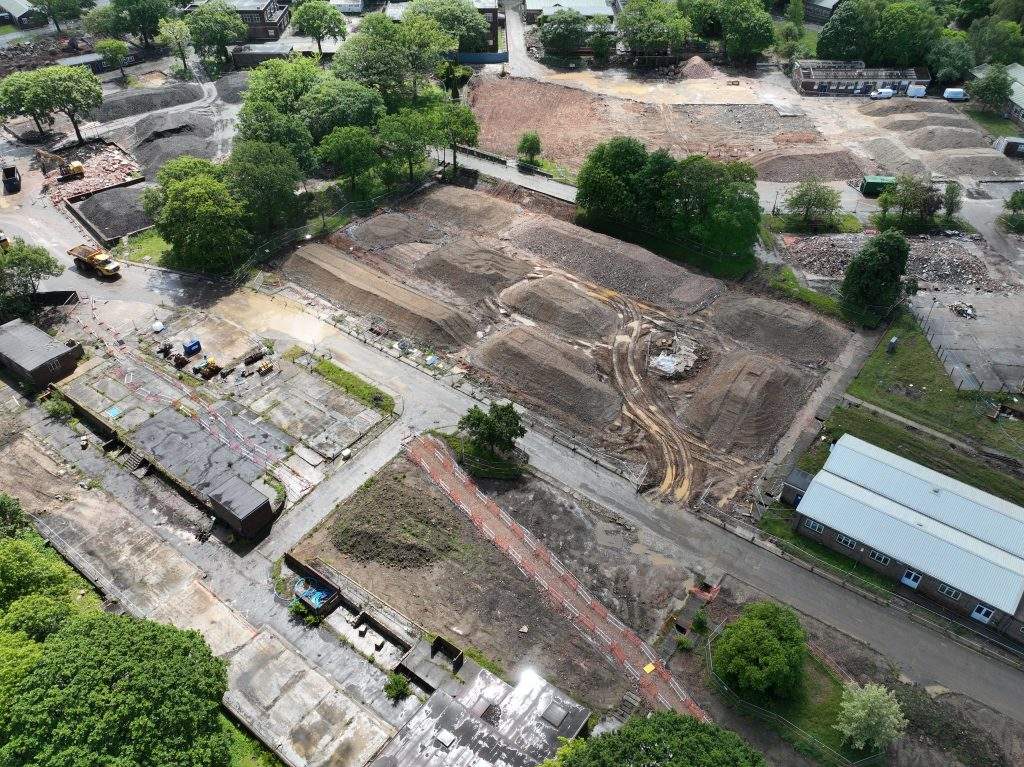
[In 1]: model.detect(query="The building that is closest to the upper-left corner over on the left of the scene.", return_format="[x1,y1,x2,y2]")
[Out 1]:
[0,3,50,31]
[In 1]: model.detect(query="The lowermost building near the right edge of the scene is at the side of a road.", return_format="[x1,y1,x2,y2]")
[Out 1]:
[795,431,1024,654]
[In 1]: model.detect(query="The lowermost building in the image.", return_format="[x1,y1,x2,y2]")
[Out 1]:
[369,668,591,767]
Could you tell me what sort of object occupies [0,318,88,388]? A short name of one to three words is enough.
building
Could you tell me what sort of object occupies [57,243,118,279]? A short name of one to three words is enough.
truck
